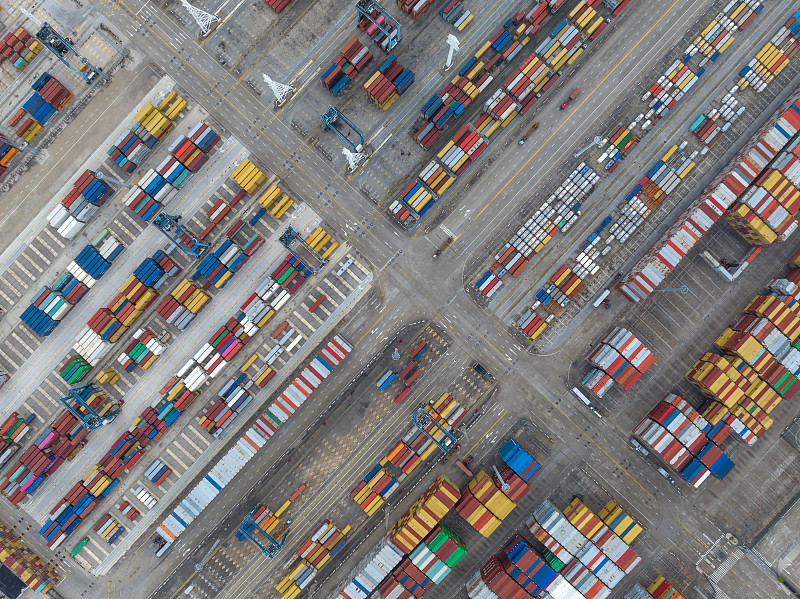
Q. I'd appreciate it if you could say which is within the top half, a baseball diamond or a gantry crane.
gantry crane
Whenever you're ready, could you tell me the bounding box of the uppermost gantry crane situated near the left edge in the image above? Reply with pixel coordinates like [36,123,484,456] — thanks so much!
[36,21,123,99]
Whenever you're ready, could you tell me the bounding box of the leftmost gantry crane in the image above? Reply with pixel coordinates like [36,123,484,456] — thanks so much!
[0,119,45,166]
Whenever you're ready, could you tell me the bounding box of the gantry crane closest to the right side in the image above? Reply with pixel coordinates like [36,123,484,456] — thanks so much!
[412,404,457,452]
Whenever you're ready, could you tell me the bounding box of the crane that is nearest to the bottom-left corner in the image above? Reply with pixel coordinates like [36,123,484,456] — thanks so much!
[59,384,119,430]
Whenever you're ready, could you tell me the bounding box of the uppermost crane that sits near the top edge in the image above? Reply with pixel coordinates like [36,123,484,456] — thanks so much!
[355,0,401,52]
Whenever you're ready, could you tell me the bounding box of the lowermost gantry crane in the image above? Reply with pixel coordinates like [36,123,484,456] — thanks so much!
[238,505,288,560]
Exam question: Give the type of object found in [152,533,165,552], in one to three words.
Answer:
vehicle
